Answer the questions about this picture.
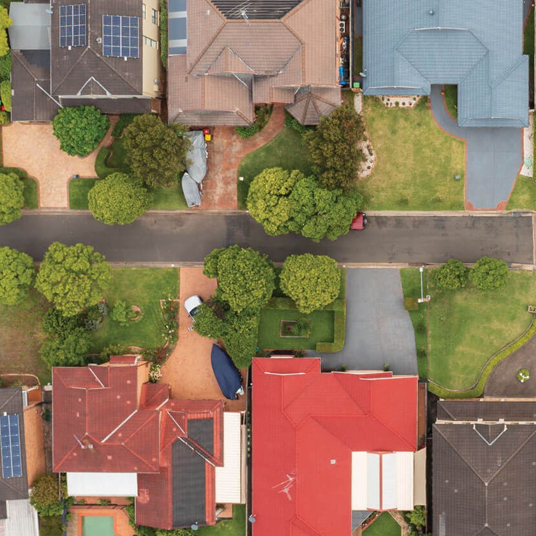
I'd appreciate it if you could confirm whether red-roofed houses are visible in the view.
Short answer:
Yes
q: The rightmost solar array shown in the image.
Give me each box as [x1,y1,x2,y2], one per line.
[103,15,140,58]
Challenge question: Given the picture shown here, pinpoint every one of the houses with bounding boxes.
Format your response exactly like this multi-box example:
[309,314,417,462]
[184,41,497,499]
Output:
[167,0,343,126]
[245,357,429,536]
[432,400,536,536]
[358,0,529,128]
[51,355,251,534]
[10,0,162,124]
